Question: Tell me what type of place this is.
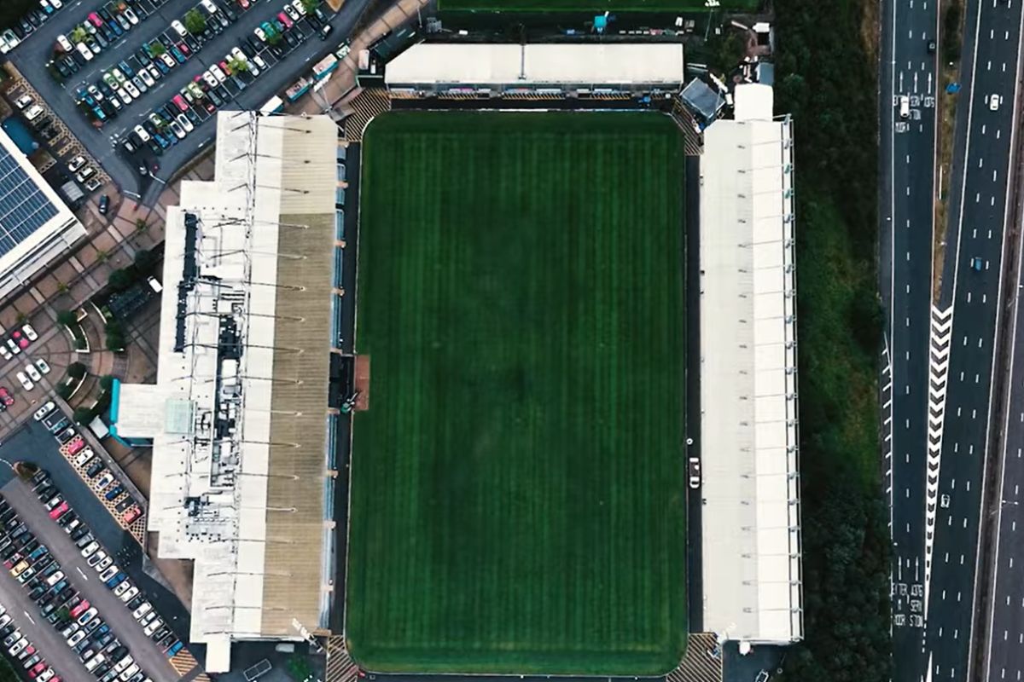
sports ground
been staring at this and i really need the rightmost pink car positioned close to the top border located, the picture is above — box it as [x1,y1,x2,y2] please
[277,10,294,29]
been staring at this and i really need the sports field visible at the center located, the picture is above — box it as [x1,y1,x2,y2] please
[346,111,688,677]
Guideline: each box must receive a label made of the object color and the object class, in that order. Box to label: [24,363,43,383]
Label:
white car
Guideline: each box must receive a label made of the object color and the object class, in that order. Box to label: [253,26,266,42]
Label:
white vehicle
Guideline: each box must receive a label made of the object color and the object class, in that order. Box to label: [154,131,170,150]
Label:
blue car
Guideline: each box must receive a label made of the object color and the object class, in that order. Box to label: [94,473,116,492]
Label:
white car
